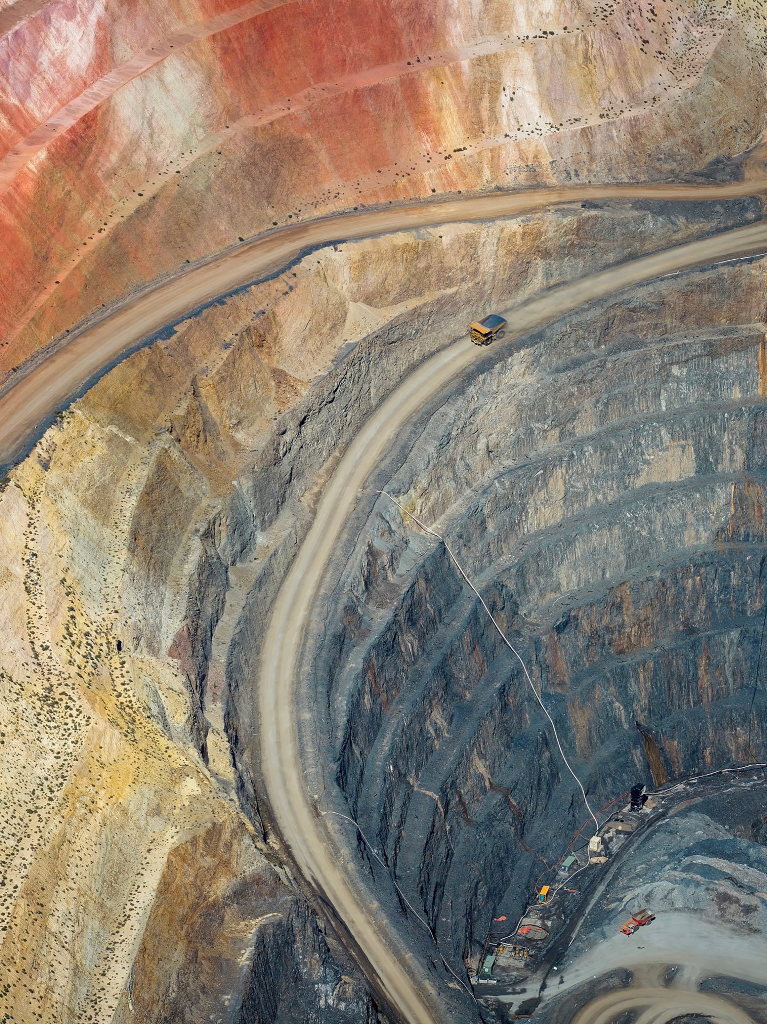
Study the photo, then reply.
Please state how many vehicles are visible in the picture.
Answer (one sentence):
Altogether the scene contains 2 vehicles.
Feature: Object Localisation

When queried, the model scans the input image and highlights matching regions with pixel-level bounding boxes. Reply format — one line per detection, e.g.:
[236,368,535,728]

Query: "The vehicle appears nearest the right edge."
[622,911,655,937]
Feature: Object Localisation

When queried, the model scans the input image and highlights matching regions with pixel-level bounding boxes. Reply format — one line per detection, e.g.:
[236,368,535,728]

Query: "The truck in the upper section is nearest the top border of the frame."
[468,312,509,344]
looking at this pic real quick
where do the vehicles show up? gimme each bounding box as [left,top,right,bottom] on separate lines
[622,911,655,937]
[468,312,509,344]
